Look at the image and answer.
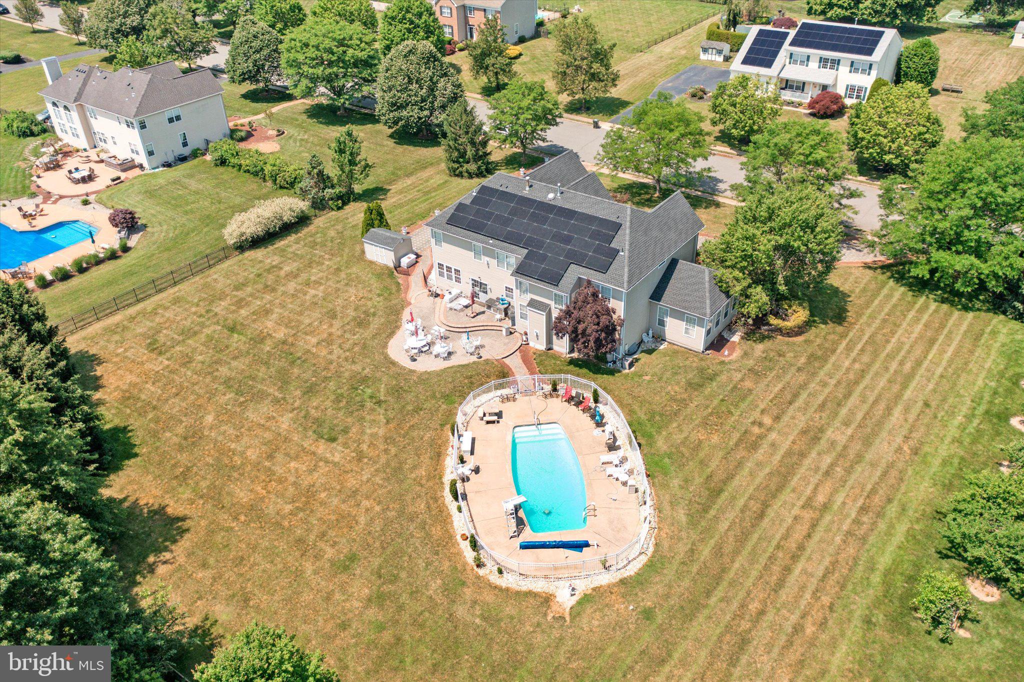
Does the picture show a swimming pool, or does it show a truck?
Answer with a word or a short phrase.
swimming pool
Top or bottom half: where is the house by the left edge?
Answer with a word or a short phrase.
top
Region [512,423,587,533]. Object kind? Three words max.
swimming pool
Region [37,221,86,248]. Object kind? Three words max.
swimming pool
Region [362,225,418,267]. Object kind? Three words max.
shed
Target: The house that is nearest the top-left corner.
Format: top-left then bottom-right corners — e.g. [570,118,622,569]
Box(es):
[36,57,234,170]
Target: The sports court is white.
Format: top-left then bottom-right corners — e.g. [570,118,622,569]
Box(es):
[937,9,1022,26]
